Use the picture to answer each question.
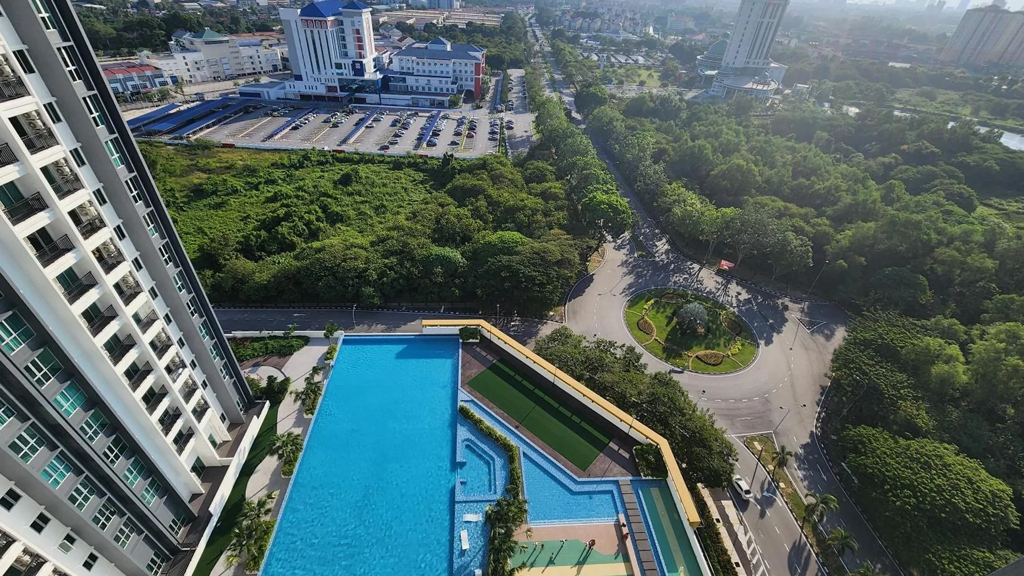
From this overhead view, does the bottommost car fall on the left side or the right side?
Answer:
right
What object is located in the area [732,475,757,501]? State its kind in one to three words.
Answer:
car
